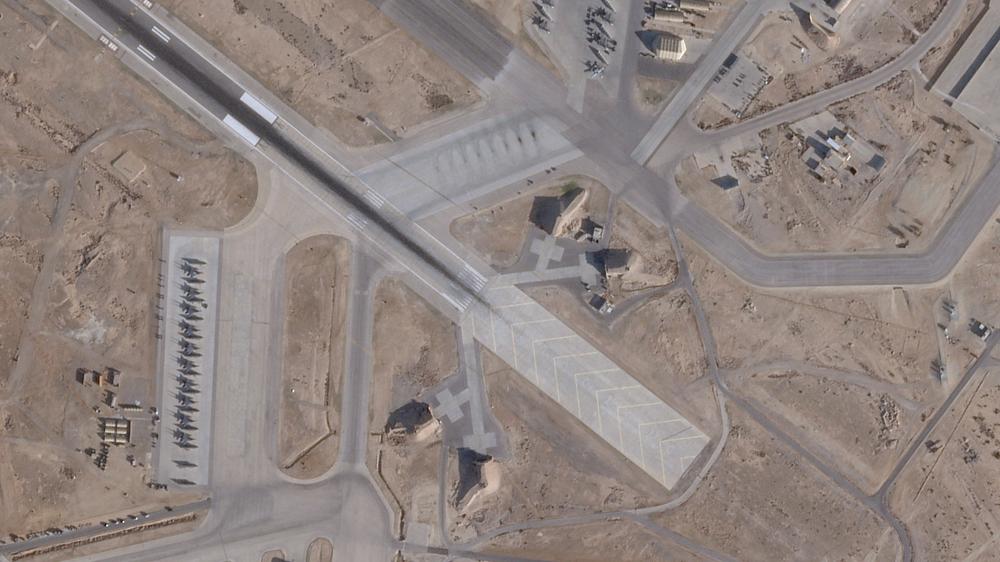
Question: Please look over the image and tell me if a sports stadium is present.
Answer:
No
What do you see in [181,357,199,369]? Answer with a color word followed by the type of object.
gray airplane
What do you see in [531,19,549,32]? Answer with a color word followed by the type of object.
gray airplane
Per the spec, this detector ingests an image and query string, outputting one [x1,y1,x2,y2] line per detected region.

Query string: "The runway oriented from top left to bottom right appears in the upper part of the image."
[68,0,490,314]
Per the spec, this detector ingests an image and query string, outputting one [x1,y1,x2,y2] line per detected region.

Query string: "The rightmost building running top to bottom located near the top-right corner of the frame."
[958,39,1000,135]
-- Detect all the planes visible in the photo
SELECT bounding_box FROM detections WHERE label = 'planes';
[187,264,205,277]
[185,302,202,314]
[183,339,200,351]
[184,320,201,332]
[535,0,553,7]
[531,19,549,32]
[179,394,197,407]
[186,283,204,295]
[181,357,199,369]
[180,375,198,388]
[594,11,612,24]
[178,412,196,425]
[590,35,607,49]
[177,431,195,443]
